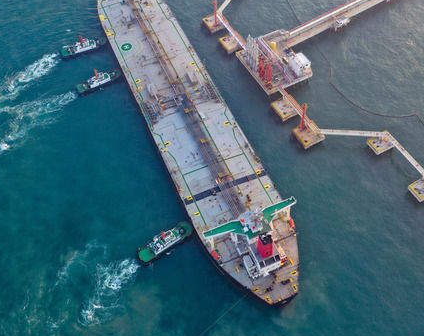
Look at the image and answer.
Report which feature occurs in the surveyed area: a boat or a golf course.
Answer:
boat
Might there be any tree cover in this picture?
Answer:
No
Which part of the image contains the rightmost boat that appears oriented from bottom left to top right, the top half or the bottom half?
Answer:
bottom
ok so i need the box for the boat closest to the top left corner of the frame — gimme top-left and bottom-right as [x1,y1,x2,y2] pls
[58,36,107,62]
